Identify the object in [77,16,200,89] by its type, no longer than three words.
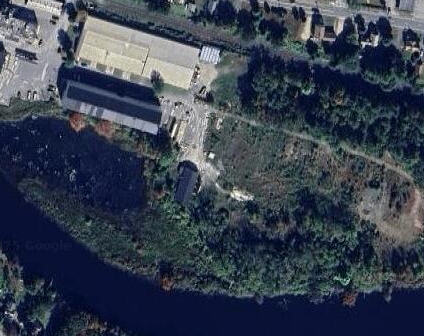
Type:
building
